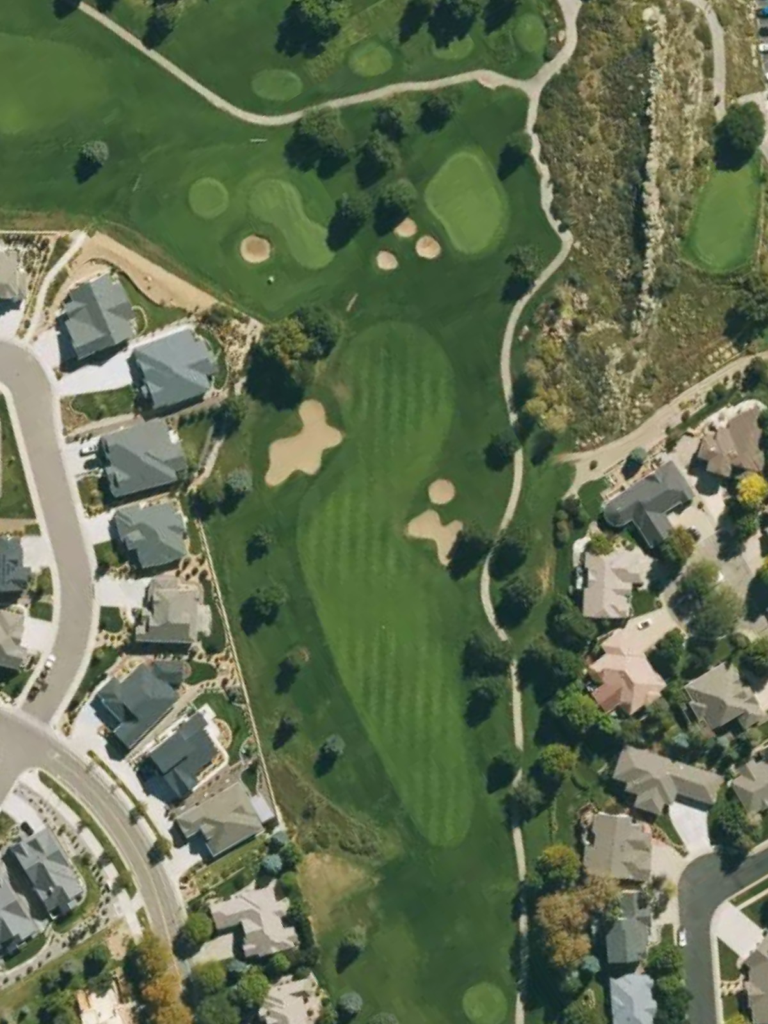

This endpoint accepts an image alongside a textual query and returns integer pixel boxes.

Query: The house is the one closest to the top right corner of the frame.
[699,404,768,479]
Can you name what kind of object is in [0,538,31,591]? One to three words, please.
house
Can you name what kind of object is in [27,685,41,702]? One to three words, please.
car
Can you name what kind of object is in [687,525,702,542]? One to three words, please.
car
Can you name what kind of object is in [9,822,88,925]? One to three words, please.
house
